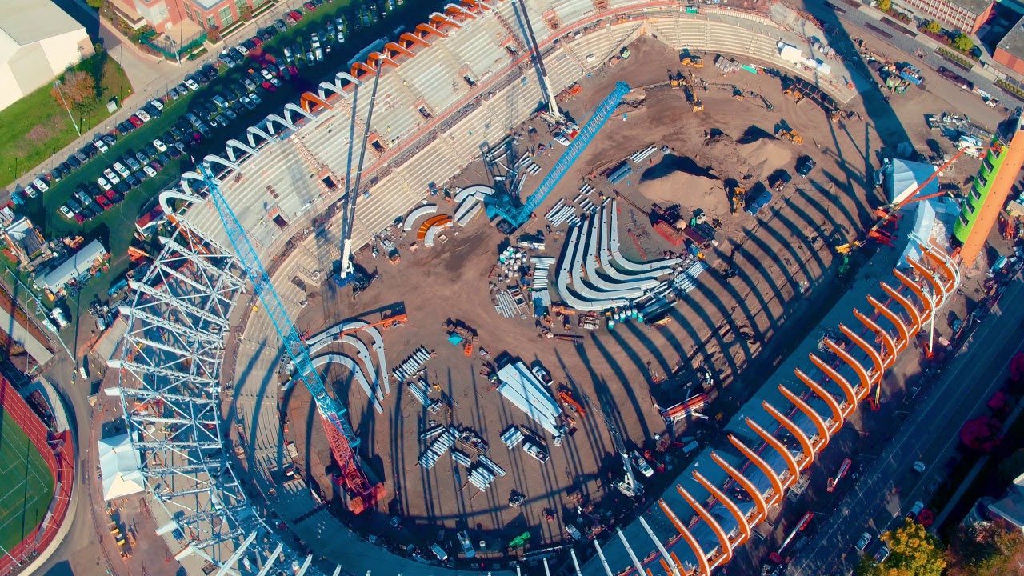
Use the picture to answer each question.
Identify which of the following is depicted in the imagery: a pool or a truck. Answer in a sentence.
Looking from above, you can make out a truck.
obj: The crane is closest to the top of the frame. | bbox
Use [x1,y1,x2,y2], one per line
[504,0,576,135]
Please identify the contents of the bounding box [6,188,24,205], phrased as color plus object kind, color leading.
blue work vehicle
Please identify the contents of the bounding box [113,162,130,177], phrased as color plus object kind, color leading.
white vehicle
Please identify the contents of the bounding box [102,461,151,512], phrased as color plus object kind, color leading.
white tent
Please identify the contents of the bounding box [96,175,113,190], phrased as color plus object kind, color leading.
white car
